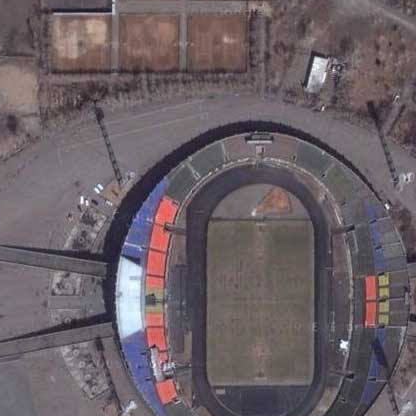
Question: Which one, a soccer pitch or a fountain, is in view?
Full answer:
I can see a soccer pitch in this picture.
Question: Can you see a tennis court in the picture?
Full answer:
Yes, a tennis court is visible in the scene.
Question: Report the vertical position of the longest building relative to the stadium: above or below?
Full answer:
Looking at the scene, the longest building is located above the stadium.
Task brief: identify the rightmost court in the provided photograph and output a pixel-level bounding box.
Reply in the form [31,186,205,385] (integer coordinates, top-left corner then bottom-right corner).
[188,14,248,72]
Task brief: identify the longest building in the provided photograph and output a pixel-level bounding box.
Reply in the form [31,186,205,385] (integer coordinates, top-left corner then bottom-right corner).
[305,55,328,91]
